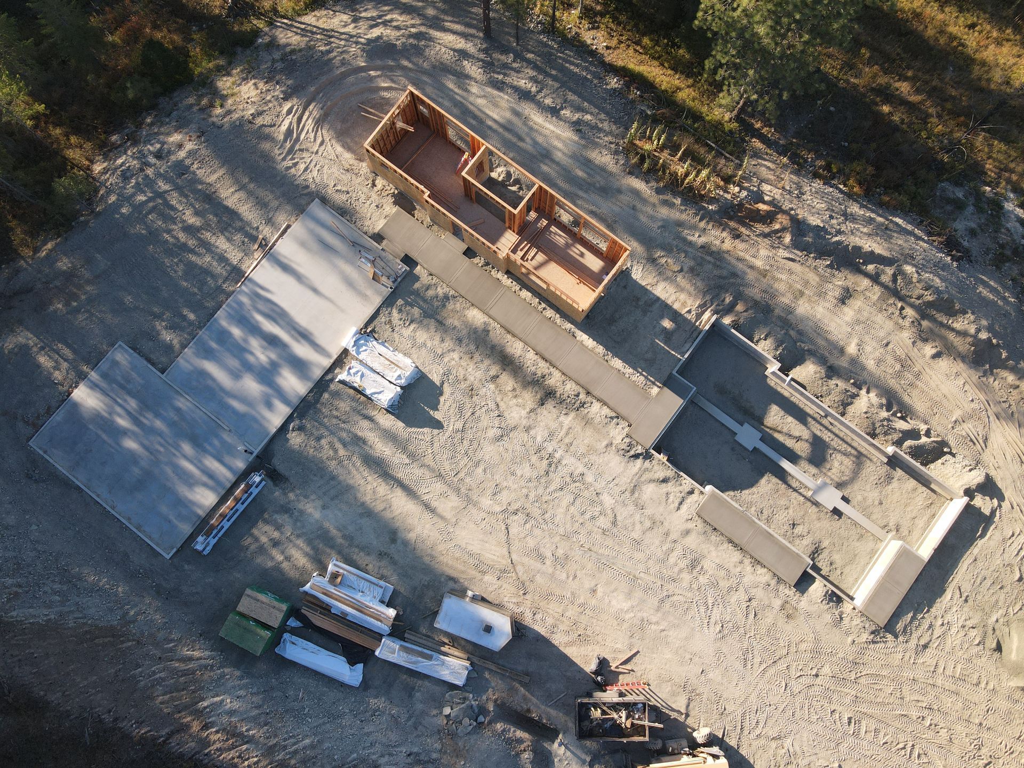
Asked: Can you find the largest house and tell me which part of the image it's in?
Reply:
top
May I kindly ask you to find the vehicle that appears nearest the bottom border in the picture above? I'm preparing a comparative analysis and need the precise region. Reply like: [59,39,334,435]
[634,727,728,768]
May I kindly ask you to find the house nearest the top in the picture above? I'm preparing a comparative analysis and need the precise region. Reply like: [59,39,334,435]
[363,89,630,323]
